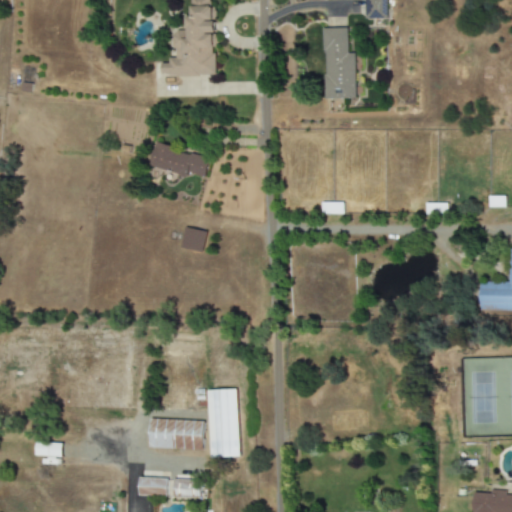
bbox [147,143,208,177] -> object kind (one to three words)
house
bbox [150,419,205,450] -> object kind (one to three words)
barn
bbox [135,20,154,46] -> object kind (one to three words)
swimming pool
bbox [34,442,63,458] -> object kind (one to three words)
building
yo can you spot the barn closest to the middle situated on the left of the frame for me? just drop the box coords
[182,226,208,251]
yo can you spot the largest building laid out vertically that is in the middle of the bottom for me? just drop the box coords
[208,388,240,458]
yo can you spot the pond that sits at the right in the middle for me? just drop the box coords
[376,252,438,306]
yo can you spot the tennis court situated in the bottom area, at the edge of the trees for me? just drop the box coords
[462,356,512,438]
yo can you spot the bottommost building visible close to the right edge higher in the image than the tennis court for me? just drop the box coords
[480,232,512,310]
